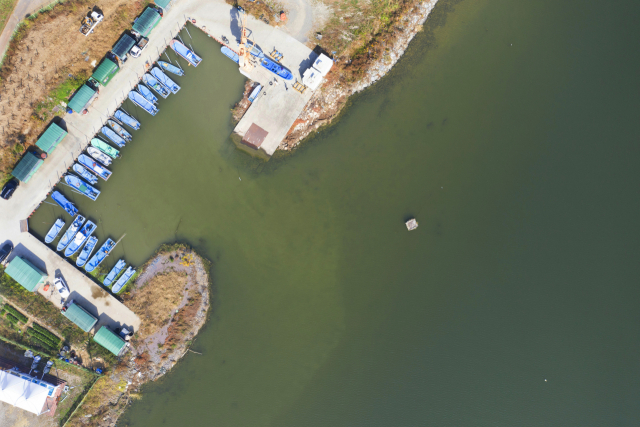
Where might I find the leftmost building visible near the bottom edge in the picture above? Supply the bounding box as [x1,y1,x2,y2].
[0,354,66,416]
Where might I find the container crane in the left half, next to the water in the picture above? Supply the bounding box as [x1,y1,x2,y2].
[236,11,256,81]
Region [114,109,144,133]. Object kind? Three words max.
boat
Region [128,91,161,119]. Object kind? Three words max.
boat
